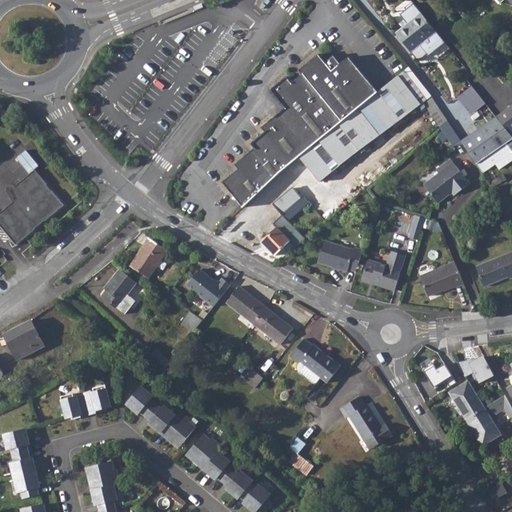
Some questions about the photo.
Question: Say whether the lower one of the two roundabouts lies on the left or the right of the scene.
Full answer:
The lower one of the two roundabouts appears in the right half of the scene.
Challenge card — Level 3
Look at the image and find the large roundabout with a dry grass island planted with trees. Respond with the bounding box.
[0,0,86,96]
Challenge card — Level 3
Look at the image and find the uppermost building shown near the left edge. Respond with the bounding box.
[0,150,63,244]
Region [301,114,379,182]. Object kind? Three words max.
building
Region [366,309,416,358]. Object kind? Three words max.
roundabout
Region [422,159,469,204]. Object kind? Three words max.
house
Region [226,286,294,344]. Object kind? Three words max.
house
